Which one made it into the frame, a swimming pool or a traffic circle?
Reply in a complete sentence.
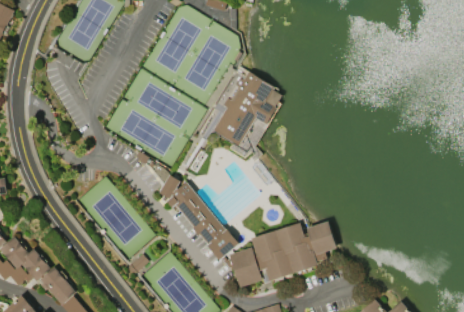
The one in the frame is a swimming pool.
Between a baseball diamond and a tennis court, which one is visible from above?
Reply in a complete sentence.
The image shows a tennis court.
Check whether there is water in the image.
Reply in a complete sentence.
Yes, water can be seen from above here.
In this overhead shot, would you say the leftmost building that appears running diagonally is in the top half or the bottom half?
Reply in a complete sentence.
You can find the leftmost building that appears running diagonally in the bottom half.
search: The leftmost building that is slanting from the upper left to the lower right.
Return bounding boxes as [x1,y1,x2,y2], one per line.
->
[0,256,30,288]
